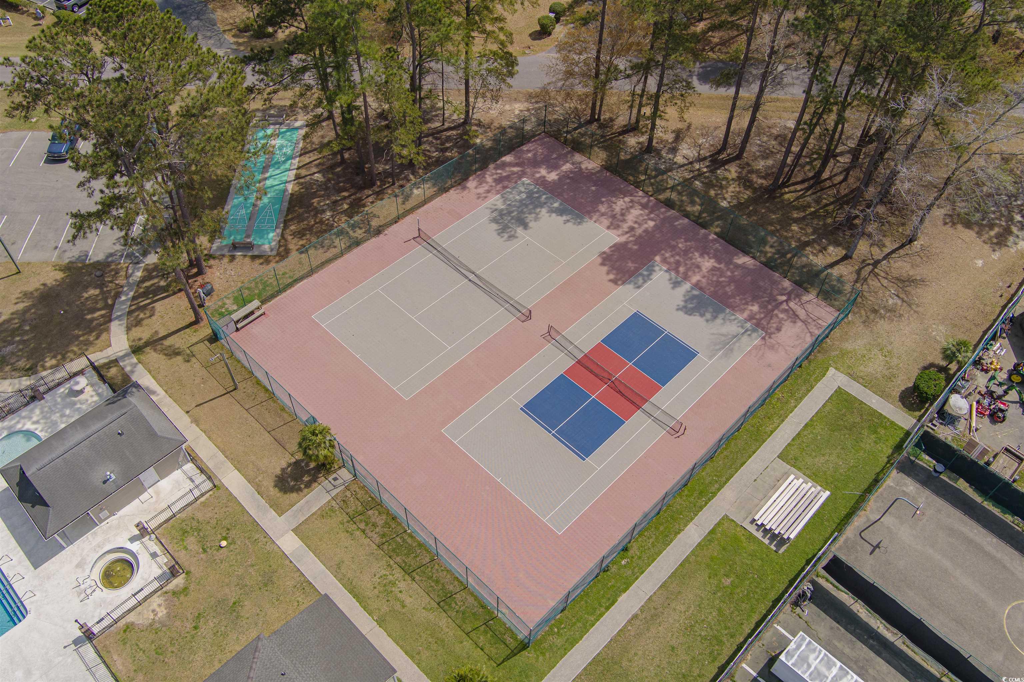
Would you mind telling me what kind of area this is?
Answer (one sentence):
What you see here is a sports ground.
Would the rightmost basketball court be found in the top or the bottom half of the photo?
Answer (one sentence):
The rightmost basketball court is in the bottom half of the image.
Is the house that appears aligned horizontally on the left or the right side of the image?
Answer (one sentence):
The house that appears aligned horizontally appears in the left half of the scene.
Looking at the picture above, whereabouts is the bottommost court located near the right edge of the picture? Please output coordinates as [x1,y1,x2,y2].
[834,459,1024,682]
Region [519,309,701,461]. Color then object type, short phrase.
blue sports court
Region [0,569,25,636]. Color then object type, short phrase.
blue swimming pool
